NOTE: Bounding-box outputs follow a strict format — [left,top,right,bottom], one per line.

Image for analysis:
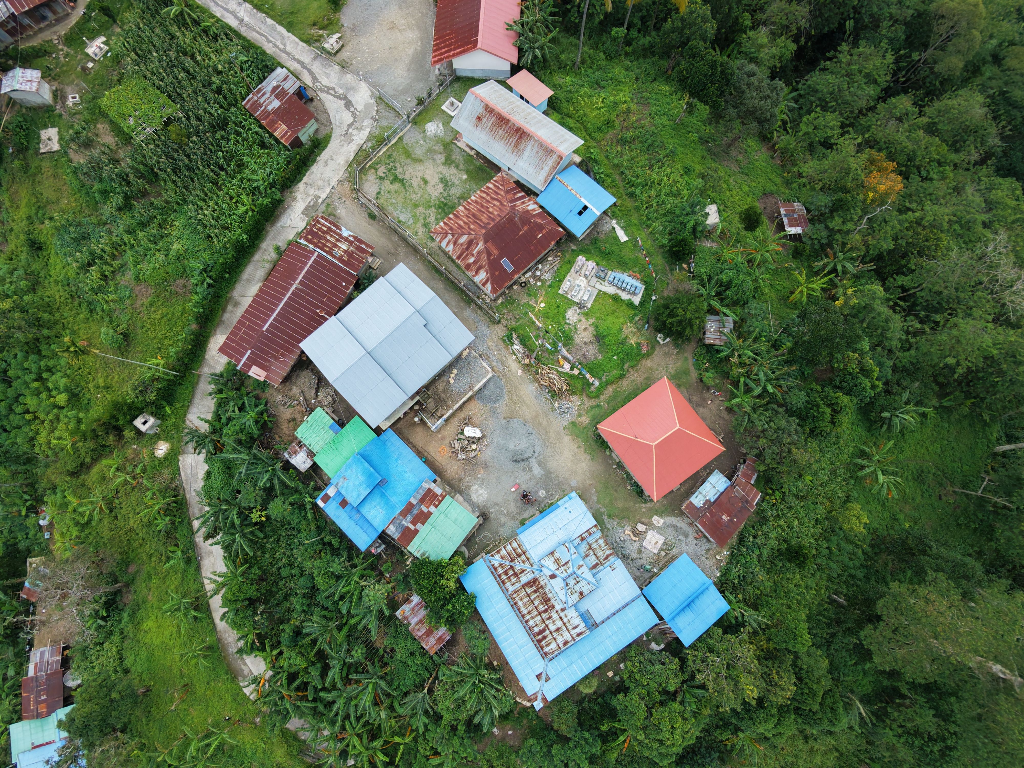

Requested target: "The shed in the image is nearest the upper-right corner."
[772,199,809,239]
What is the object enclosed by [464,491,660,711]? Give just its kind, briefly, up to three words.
house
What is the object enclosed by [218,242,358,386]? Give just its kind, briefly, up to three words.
house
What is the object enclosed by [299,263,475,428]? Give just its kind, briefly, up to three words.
building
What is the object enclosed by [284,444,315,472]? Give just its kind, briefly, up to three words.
shed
